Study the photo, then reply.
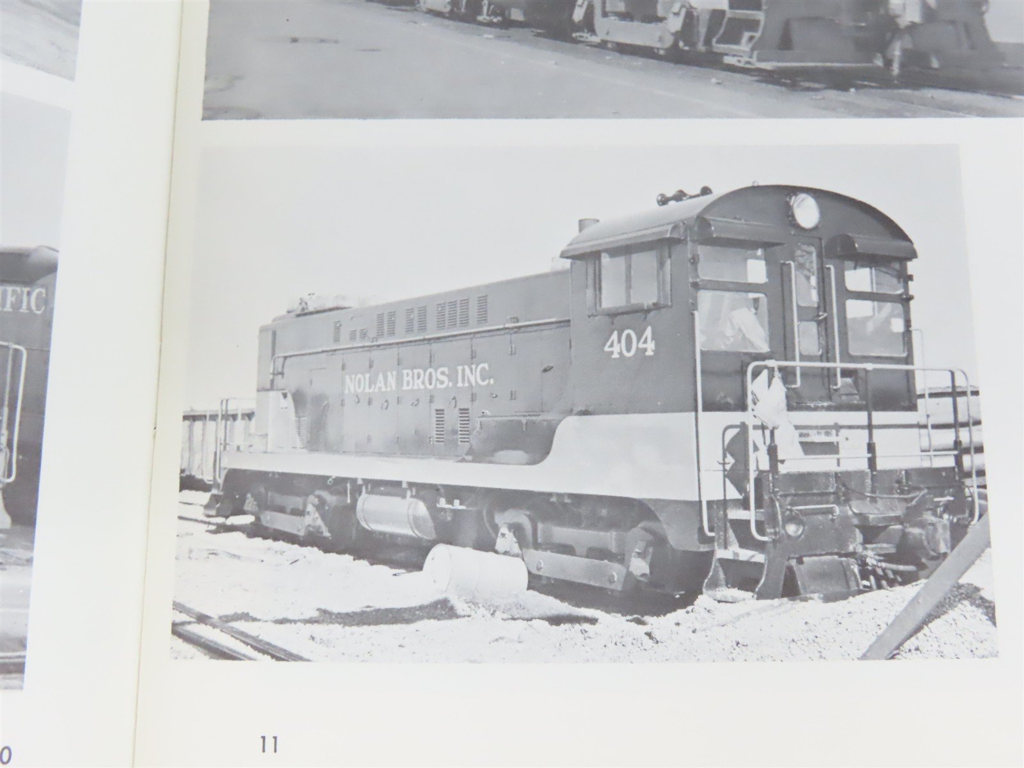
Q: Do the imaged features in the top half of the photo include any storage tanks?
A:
No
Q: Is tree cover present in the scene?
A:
No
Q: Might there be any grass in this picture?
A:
No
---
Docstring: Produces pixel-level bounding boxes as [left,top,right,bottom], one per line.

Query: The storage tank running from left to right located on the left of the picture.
[356,495,436,540]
